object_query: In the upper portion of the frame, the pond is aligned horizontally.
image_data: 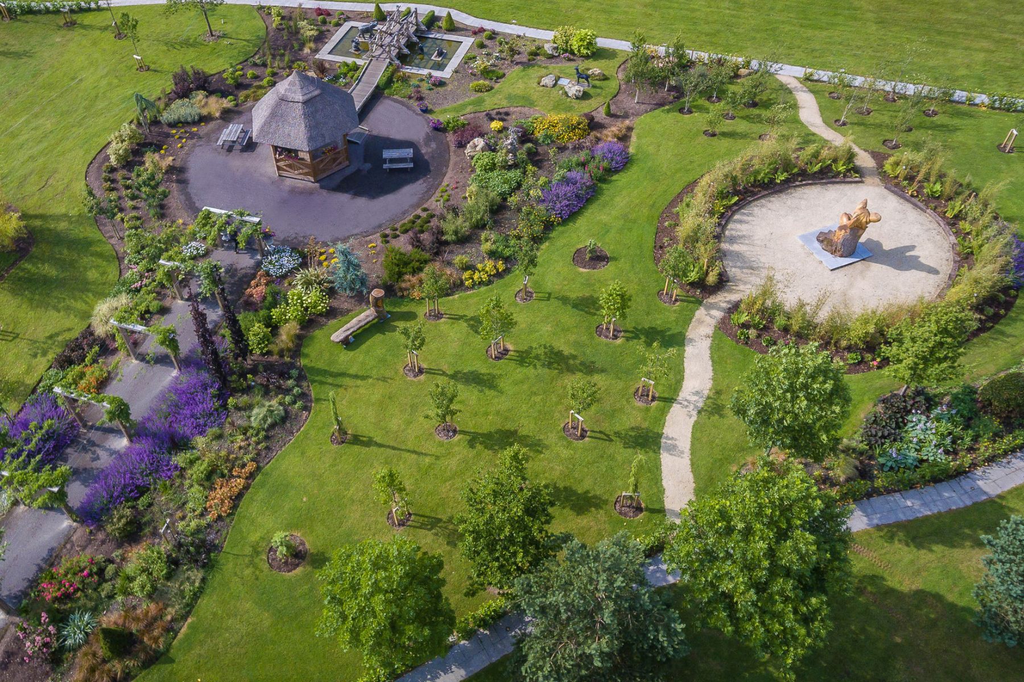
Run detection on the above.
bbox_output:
[315,20,475,77]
